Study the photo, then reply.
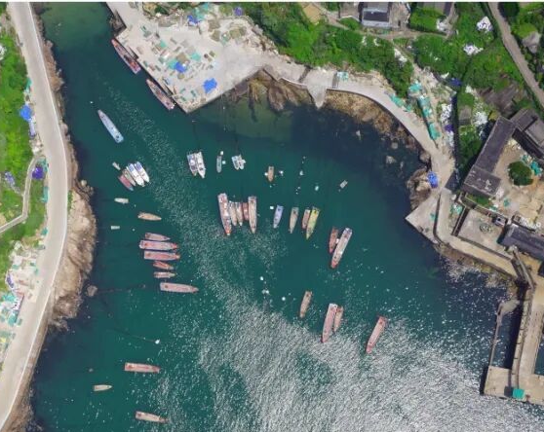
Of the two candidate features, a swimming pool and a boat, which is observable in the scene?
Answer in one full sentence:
The image shows a boat.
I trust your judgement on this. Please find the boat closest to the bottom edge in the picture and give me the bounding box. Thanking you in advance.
[135,411,168,424]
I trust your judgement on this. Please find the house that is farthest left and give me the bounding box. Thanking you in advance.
[339,2,359,21]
